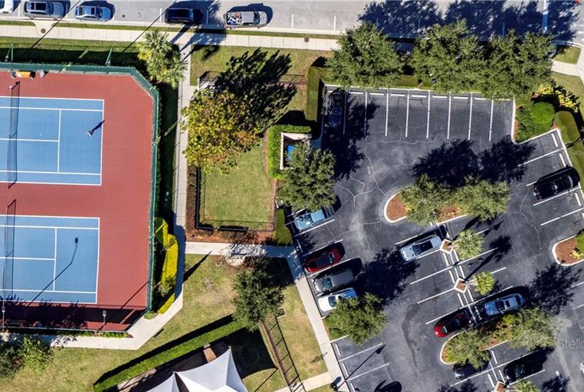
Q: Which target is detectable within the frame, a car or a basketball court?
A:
car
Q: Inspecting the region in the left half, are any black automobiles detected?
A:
Yes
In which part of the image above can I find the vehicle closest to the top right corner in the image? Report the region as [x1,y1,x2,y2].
[531,170,577,198]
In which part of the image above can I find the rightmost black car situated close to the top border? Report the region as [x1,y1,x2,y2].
[164,6,203,25]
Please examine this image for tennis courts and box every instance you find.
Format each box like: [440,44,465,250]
[0,215,101,304]
[0,96,104,185]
